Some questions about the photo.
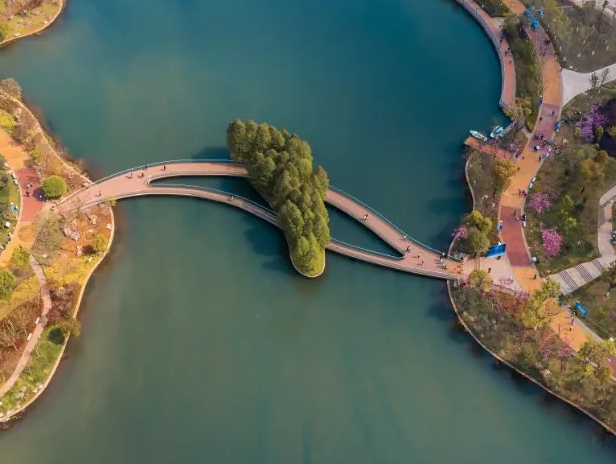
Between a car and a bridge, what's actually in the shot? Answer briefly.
bridge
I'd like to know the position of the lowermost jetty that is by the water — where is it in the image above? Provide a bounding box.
[465,134,518,160]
